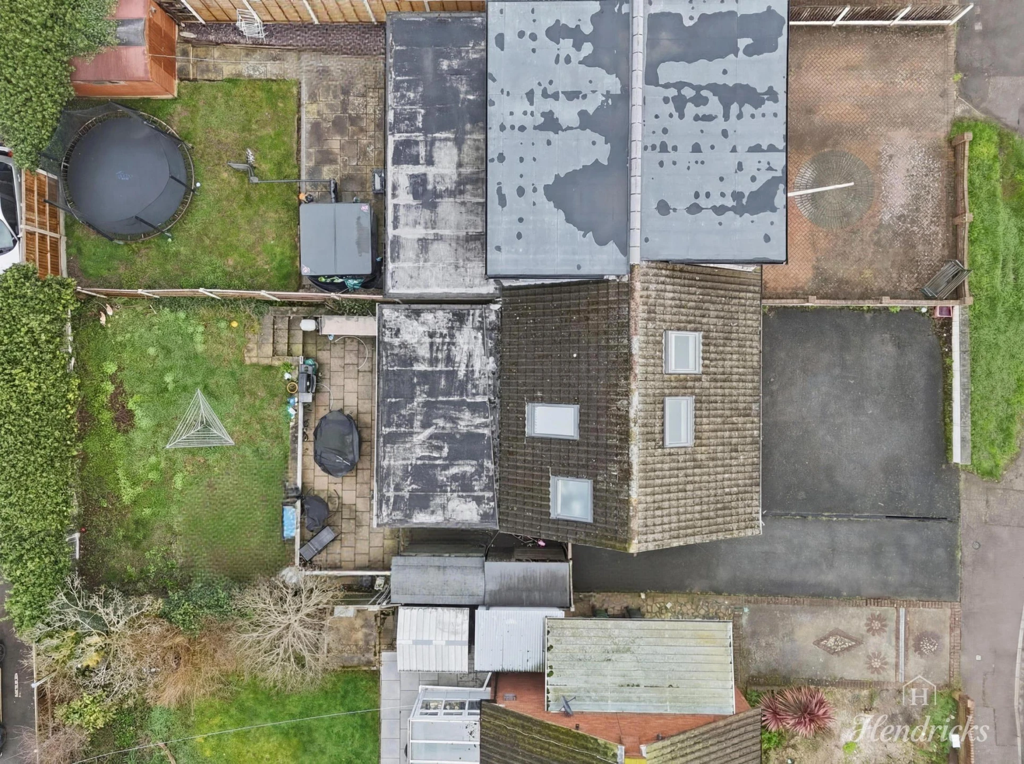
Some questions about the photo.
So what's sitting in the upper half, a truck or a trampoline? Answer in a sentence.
There is a trampoline in the upper half.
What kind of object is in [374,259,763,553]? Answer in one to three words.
house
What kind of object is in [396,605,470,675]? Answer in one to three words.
shed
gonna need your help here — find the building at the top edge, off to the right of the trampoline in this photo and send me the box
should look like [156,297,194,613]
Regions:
[385,0,790,304]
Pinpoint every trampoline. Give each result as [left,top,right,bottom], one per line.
[28,85,204,243]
